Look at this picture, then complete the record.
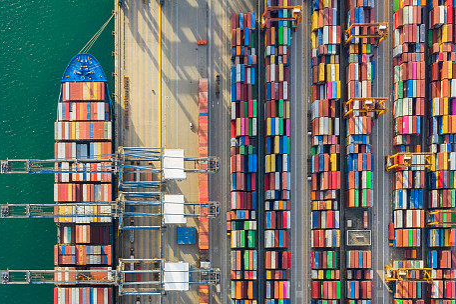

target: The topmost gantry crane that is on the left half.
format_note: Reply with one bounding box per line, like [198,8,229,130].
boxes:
[0,148,222,195]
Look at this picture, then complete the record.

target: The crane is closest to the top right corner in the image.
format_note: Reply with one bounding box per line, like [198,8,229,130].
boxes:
[340,23,389,49]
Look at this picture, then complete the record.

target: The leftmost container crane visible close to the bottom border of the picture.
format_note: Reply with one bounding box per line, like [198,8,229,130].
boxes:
[0,258,221,293]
